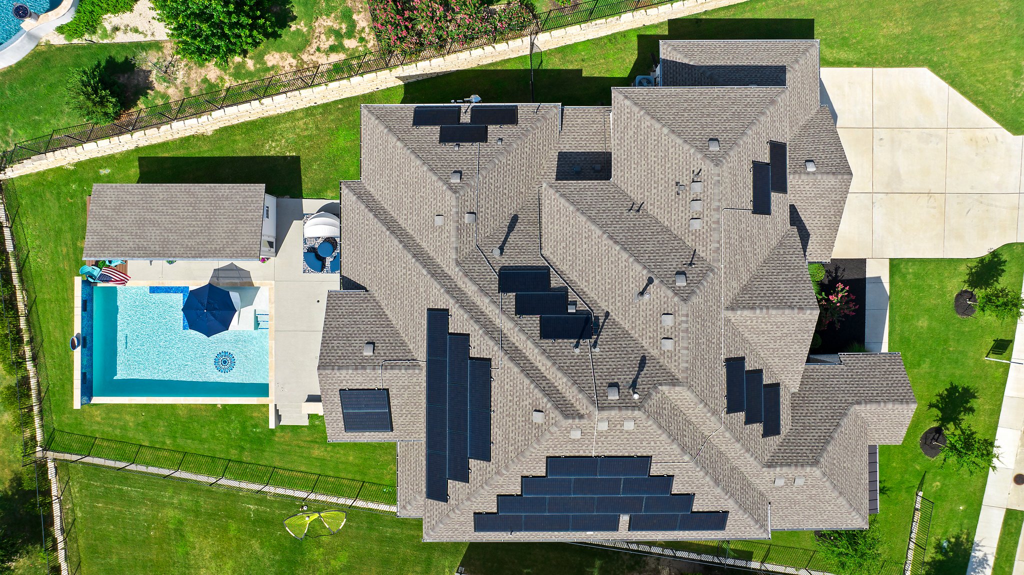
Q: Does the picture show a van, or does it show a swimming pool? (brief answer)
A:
swimming pool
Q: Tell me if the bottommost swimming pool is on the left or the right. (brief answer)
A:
left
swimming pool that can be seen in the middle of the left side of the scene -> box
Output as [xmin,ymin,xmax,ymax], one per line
[74,277,275,409]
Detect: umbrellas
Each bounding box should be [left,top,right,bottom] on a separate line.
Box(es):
[182,283,237,337]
